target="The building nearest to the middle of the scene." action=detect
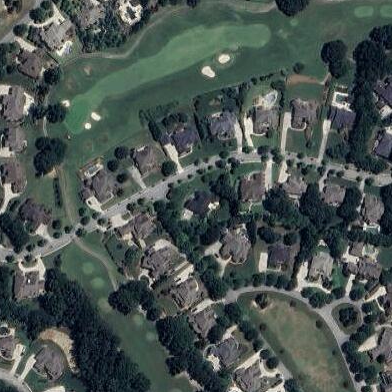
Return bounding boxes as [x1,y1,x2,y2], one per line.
[183,190,217,215]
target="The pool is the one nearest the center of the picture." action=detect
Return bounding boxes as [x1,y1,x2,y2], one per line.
[80,163,104,182]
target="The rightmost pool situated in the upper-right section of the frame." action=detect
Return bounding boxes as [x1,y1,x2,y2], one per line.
[331,92,349,106]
